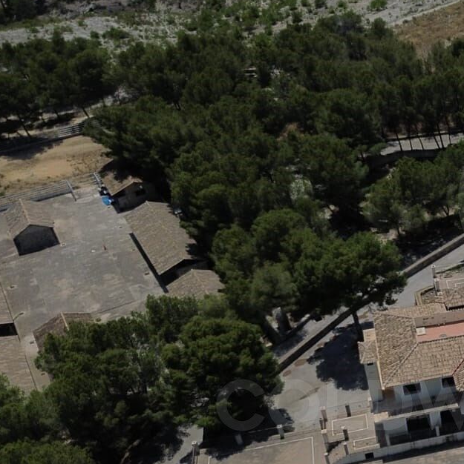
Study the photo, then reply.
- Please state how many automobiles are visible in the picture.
none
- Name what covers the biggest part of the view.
trees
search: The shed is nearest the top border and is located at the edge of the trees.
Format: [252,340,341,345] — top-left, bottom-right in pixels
[100,154,159,212]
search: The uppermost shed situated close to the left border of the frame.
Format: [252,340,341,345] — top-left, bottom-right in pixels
[5,198,60,256]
